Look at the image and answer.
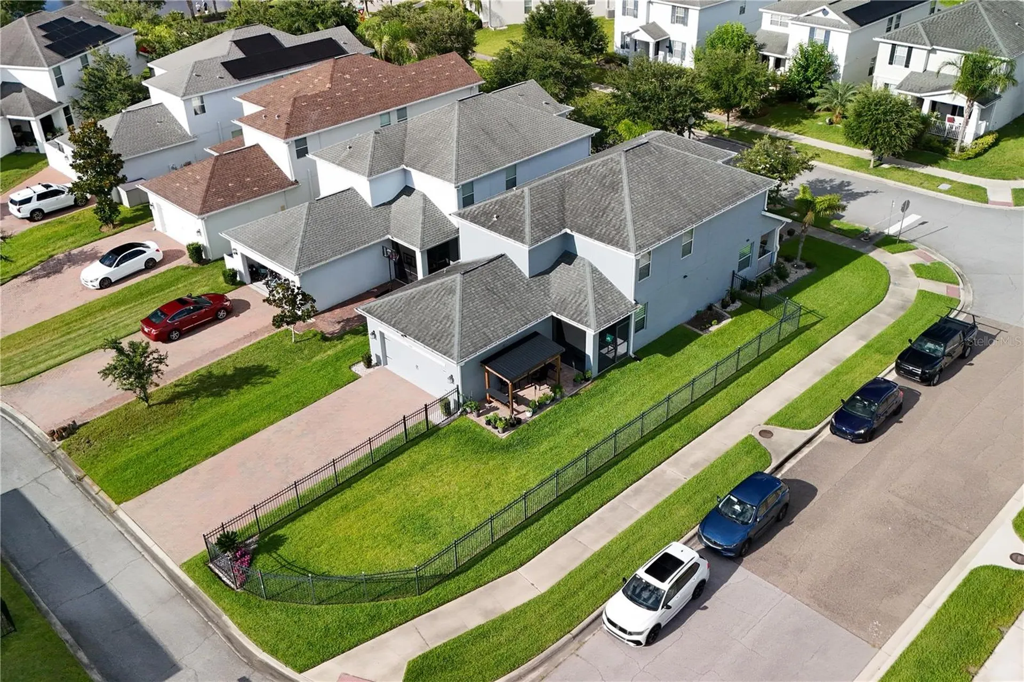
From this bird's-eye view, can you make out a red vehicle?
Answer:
Yes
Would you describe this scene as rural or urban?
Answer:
urban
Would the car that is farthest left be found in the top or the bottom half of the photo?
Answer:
top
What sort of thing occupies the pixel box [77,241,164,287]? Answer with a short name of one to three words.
car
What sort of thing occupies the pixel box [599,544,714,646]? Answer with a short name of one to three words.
car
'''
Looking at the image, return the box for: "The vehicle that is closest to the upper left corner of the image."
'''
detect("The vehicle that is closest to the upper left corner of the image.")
[10,179,83,218]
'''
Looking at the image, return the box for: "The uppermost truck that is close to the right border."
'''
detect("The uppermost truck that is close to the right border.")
[895,305,989,388]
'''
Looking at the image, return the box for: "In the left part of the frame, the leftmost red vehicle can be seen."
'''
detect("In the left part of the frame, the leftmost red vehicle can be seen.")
[138,290,235,339]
